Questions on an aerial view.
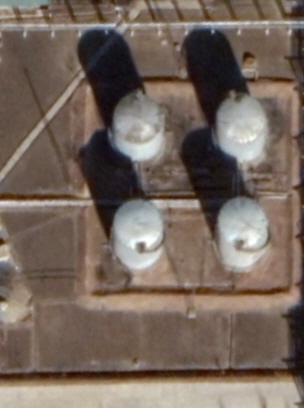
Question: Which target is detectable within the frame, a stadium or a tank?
tank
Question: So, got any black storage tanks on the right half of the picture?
No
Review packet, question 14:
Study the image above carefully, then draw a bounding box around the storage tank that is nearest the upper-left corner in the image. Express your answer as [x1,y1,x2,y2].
[111,93,168,173]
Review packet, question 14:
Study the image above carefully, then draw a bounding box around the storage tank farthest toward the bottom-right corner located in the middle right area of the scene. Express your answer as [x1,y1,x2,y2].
[216,201,273,269]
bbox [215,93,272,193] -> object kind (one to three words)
storage tank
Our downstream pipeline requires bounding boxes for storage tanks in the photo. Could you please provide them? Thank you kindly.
[215,93,272,193]
[111,93,168,173]
[111,201,168,269]
[216,201,273,269]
